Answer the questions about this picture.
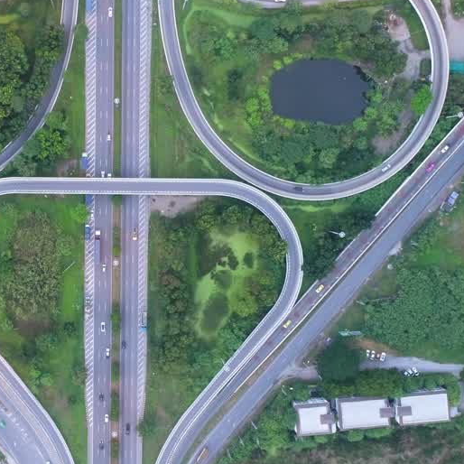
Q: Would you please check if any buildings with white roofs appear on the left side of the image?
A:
No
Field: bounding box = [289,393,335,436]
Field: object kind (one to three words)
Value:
building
